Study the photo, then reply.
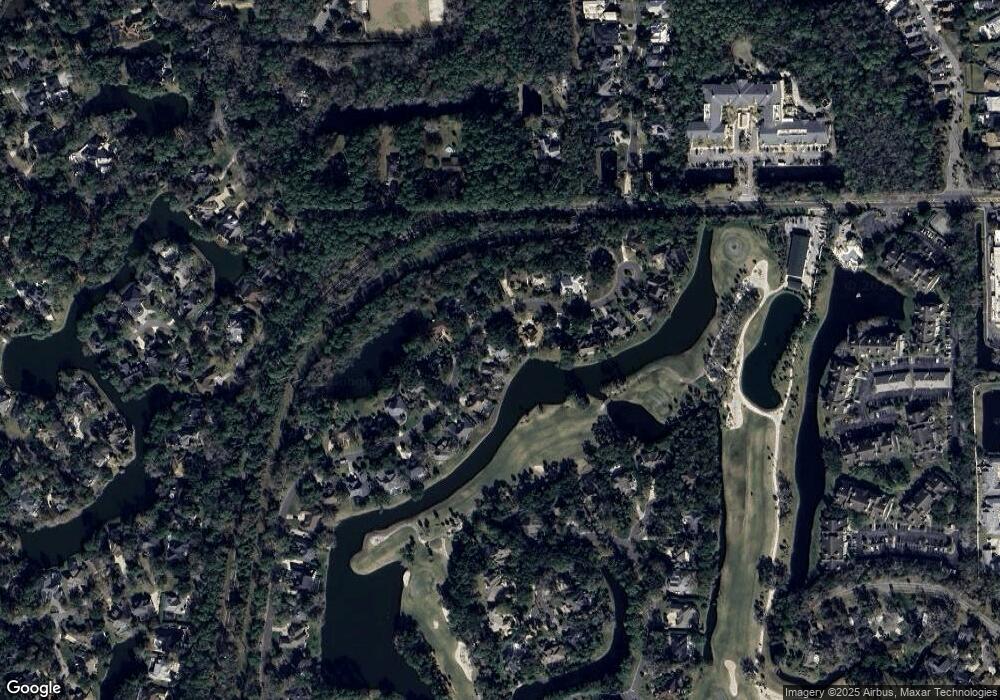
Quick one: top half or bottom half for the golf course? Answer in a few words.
bottom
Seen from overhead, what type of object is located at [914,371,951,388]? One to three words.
building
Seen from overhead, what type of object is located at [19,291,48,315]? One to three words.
house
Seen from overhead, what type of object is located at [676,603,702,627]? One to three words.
house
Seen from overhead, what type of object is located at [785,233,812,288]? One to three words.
building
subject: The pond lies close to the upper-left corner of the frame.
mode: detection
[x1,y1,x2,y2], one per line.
[87,86,188,133]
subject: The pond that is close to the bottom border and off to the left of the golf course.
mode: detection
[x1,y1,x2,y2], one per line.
[100,636,148,700]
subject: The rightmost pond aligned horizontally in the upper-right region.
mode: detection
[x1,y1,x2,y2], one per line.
[753,166,846,193]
